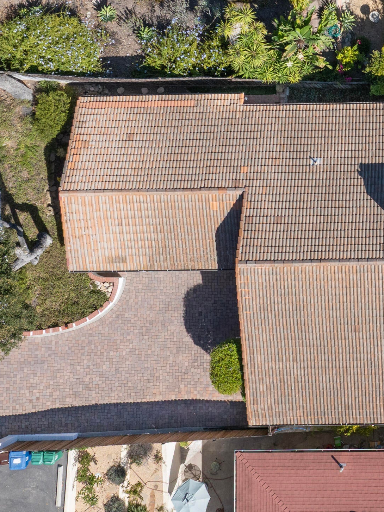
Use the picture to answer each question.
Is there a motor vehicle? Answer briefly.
No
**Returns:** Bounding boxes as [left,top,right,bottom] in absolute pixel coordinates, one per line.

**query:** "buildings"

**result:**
[56,91,384,430]
[232,447,384,512]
